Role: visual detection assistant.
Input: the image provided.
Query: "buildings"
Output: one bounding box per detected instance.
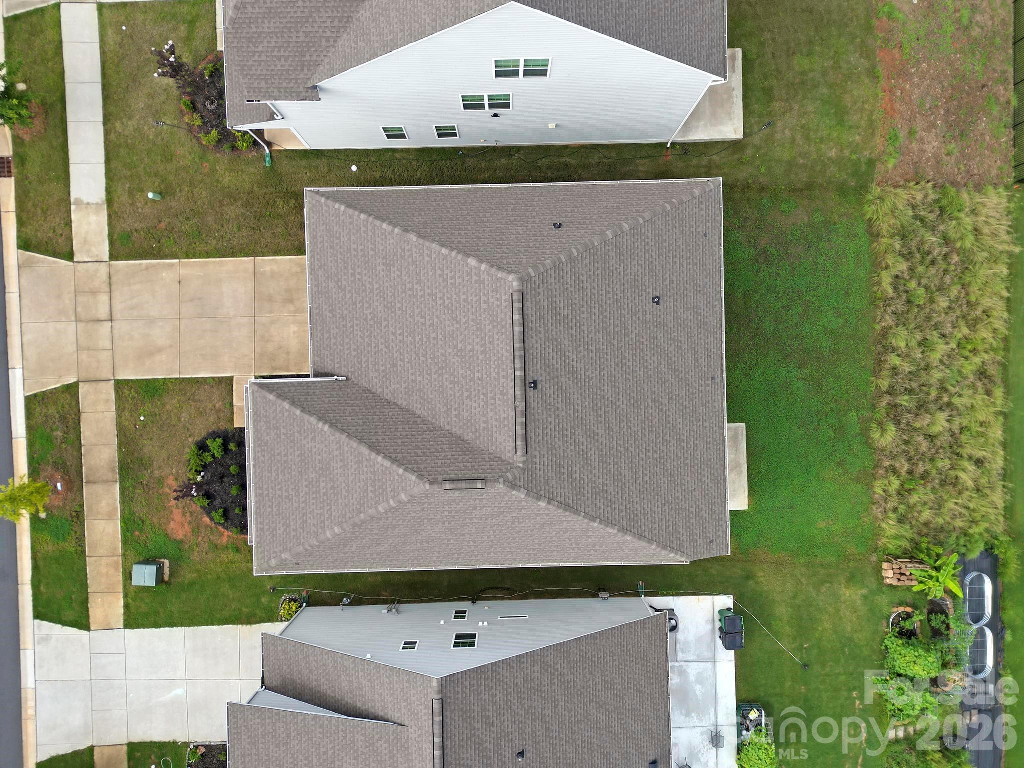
[225,591,672,768]
[216,0,730,157]
[242,175,734,578]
